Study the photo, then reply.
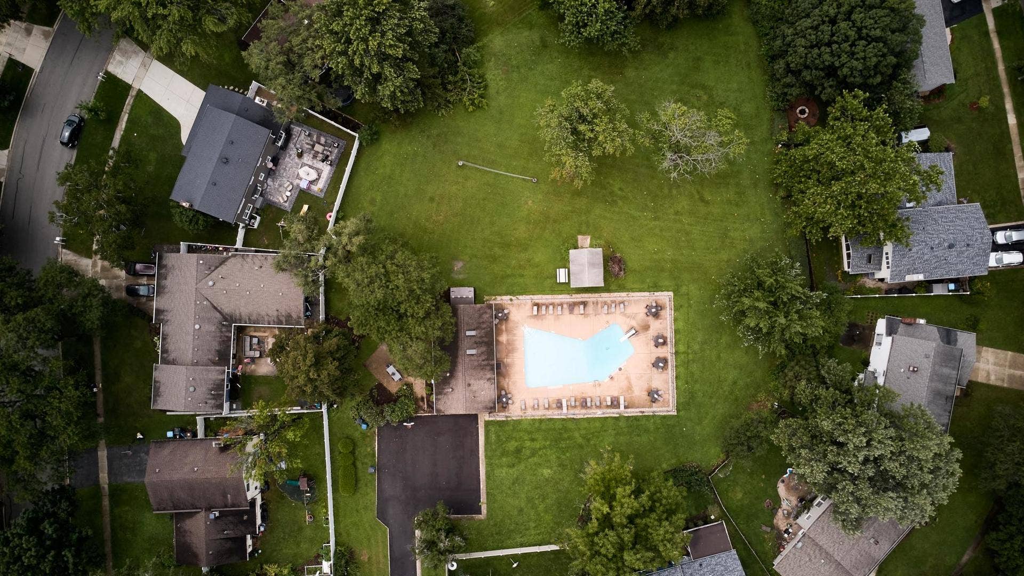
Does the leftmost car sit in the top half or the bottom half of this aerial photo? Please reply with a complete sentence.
The leftmost car is in the top half of the image.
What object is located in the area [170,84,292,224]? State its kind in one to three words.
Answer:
house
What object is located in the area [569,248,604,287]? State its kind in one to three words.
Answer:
shed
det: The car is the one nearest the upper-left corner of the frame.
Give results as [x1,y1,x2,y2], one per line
[57,113,86,150]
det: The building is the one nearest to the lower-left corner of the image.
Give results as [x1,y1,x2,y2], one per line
[144,436,264,574]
